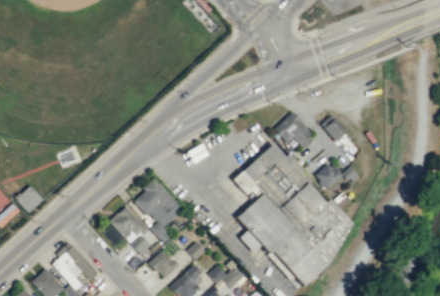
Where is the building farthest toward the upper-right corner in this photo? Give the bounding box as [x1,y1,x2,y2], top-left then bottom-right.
[320,113,344,140]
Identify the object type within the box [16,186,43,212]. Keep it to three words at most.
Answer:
building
